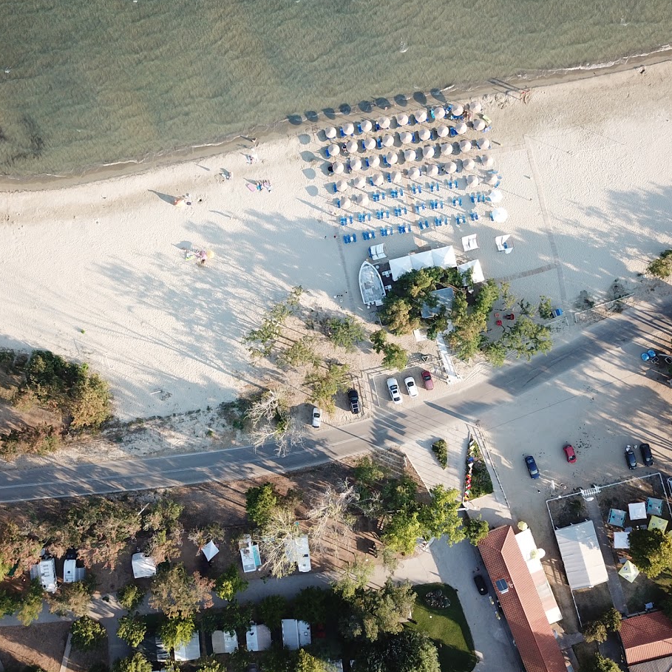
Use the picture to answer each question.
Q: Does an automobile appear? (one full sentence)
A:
Yes, the frame does contain an automobile.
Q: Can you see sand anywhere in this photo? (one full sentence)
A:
Yes, there is sand in the image.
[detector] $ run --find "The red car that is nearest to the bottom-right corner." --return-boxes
[561,442,577,464]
